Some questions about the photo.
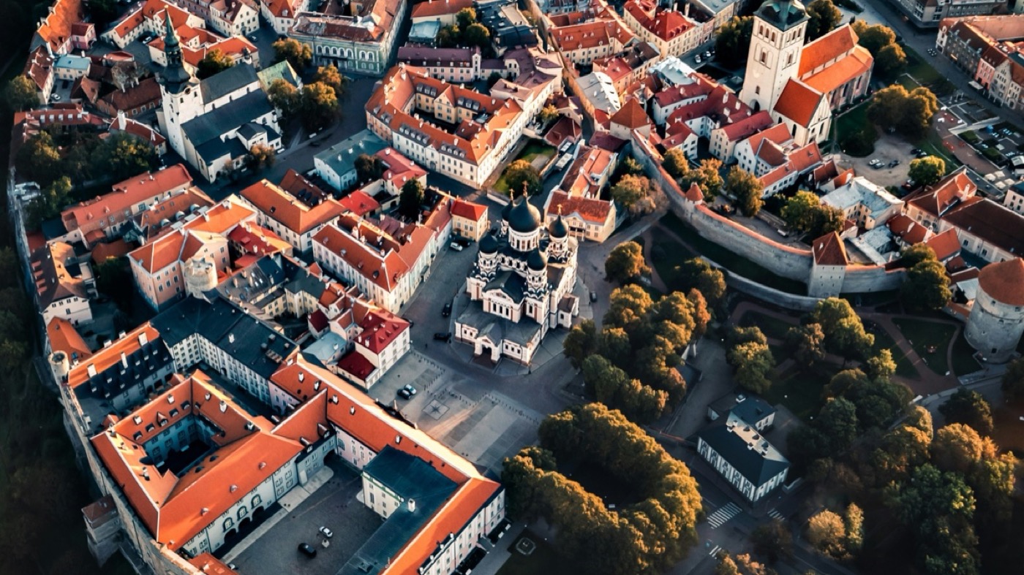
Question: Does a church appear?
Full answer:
Yes, looking at the shot, I can spot a church.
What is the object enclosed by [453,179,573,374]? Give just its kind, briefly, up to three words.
church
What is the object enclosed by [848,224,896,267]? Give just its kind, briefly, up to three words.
house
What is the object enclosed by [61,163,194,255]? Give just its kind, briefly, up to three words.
house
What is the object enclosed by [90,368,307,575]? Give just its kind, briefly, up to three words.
building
